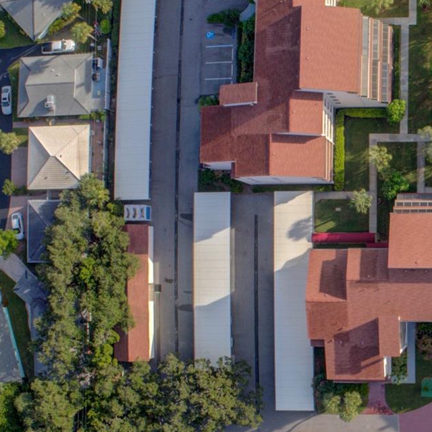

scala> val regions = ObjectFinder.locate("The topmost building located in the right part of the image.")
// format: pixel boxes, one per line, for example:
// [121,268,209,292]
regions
[200,0,398,183]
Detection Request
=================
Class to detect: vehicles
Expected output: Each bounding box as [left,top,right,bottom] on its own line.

[6,211,24,238]
[39,37,74,51]
[0,85,12,115]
